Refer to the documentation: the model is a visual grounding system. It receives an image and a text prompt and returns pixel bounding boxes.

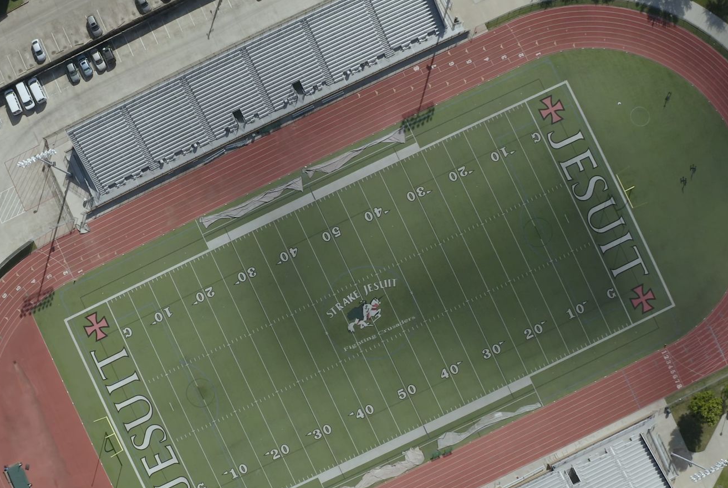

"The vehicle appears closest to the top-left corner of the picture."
[30,37,46,63]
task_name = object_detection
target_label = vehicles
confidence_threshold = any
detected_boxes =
[64,60,81,86]
[29,76,49,106]
[5,87,25,118]
[30,37,46,63]
[100,43,117,69]
[86,12,102,38]
[15,80,36,111]
[91,48,107,73]
[77,54,94,80]
[137,0,151,15]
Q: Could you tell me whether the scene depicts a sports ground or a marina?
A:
sports ground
